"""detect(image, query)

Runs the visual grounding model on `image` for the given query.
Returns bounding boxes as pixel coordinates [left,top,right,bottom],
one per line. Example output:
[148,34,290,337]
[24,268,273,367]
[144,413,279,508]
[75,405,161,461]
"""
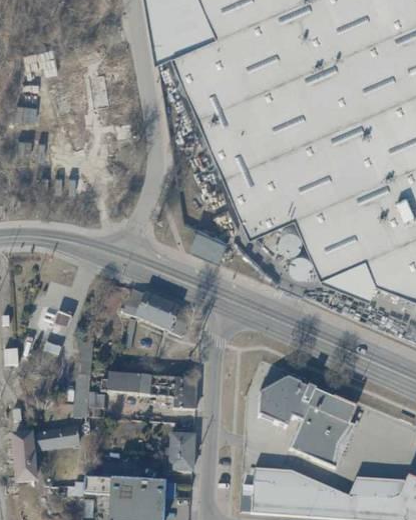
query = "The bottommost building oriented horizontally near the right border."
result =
[252,468,416,520]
